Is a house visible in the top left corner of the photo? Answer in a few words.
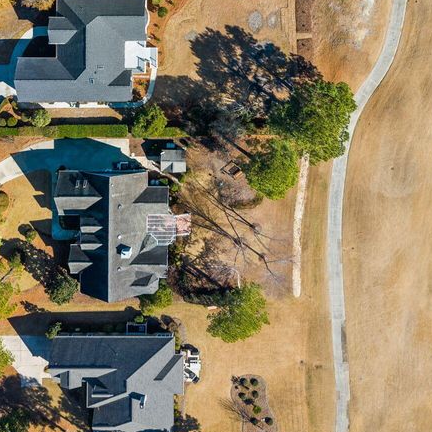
Yes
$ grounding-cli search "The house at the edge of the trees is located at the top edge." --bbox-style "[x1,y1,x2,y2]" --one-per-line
[8,0,157,102]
